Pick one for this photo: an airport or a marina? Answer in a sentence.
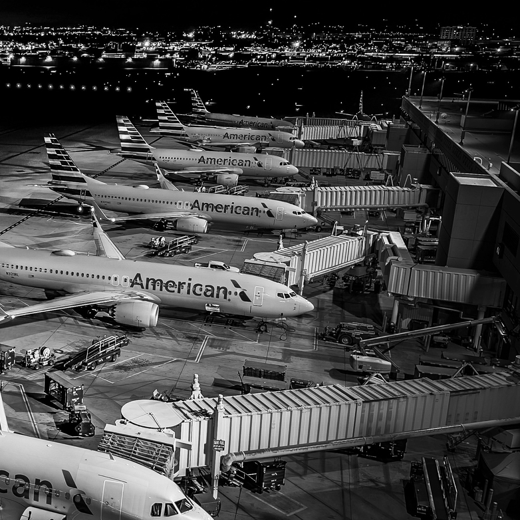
What you see here is an airport.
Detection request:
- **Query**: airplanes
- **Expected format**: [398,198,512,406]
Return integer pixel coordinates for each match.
[0,208,312,333]
[22,132,314,237]
[151,102,303,153]
[109,117,297,187]
[176,89,290,130]
[0,368,213,520]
